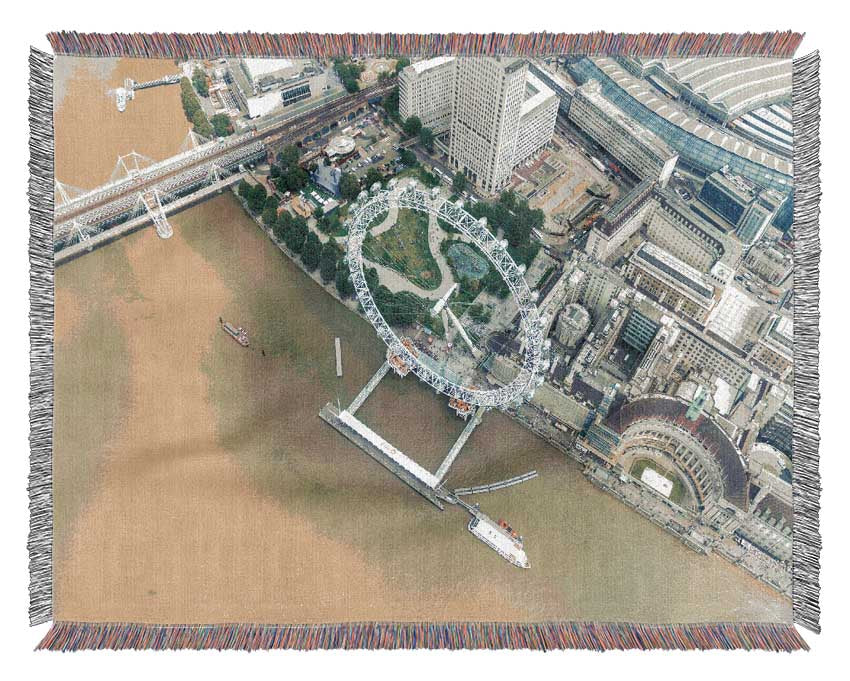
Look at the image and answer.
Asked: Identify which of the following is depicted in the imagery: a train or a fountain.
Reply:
train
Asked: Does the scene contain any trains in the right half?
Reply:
No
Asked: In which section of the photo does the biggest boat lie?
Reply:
bottom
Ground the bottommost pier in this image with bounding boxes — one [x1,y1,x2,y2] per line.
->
[437,485,480,517]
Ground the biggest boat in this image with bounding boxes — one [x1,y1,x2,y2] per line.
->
[467,512,530,568]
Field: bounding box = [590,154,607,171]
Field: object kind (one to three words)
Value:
vehicle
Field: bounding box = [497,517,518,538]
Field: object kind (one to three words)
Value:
boat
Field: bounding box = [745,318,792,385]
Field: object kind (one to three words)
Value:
building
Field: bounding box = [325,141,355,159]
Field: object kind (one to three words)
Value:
tent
